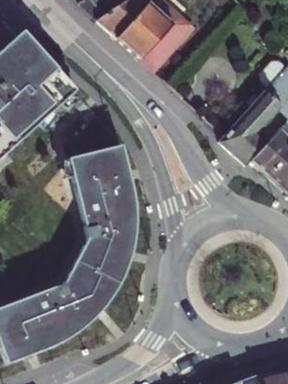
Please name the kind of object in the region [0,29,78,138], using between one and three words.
building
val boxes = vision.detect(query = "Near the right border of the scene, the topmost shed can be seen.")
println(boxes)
[262,60,284,82]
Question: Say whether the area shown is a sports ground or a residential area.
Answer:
residential area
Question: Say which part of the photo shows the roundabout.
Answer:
bottom right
